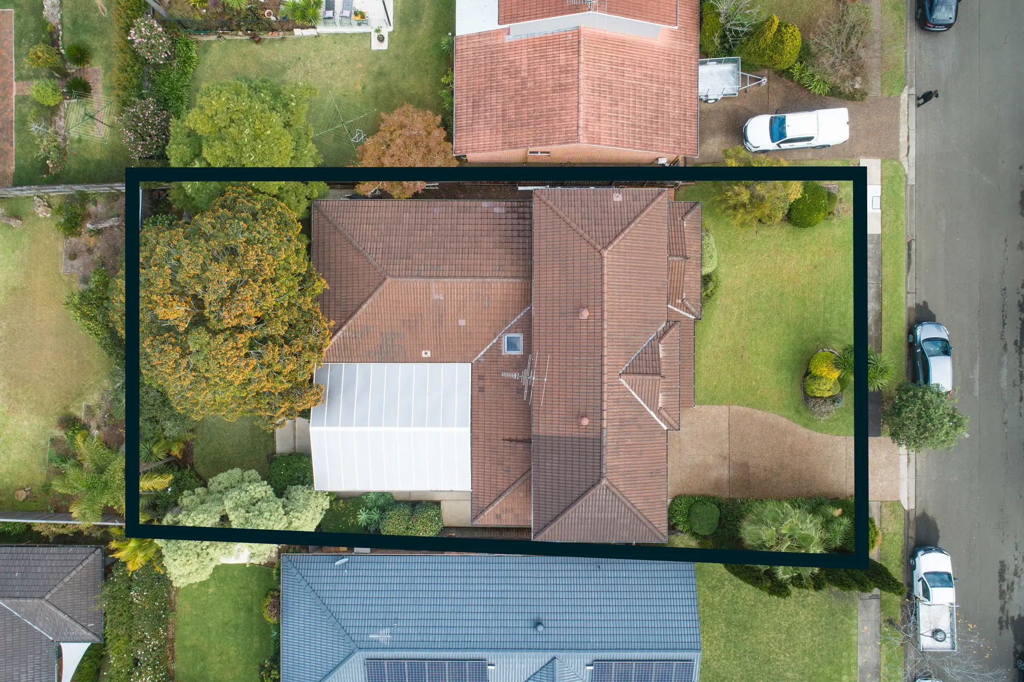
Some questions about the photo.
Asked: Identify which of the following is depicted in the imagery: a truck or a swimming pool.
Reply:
truck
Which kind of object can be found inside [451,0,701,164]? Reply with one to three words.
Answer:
house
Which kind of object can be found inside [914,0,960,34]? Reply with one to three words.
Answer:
car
